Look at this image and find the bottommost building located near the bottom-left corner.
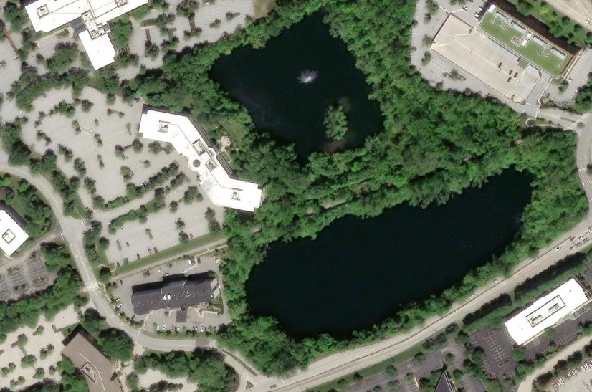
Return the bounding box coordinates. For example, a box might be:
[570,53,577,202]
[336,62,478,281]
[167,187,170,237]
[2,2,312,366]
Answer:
[62,333,124,392]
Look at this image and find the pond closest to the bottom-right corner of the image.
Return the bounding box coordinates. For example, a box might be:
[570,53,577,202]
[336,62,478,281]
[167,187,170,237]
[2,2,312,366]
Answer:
[248,169,532,339]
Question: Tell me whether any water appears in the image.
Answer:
Yes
